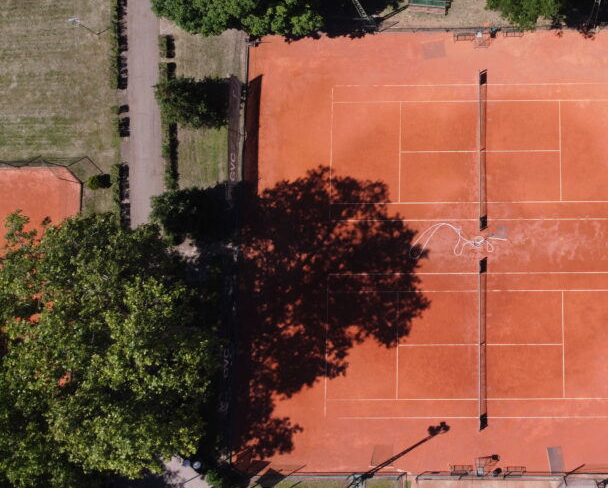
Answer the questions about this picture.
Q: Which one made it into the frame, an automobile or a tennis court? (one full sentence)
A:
Looking from above, you can make out a tennis court.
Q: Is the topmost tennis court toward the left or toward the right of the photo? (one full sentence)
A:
The topmost tennis court sits on the right side.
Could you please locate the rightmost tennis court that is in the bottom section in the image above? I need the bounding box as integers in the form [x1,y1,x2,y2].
[234,245,608,477]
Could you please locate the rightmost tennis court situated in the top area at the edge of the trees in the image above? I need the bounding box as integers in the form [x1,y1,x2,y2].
[242,27,608,248]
